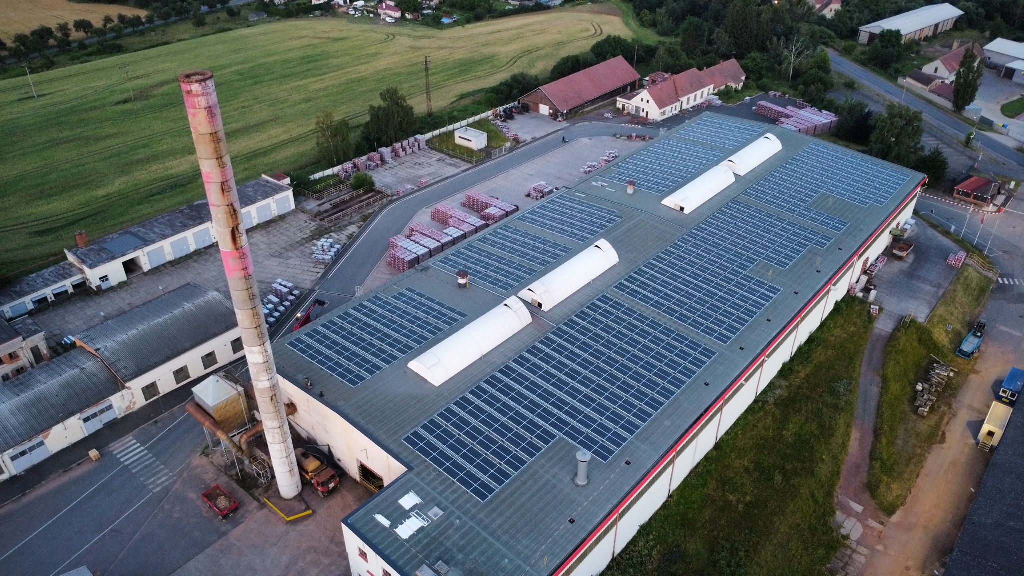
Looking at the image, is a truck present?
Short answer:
Yes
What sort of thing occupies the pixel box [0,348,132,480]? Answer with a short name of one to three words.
shed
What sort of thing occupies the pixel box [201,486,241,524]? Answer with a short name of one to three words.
trailer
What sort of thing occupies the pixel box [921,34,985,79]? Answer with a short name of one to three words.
house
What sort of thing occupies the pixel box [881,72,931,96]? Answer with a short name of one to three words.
shed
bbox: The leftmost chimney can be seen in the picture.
[76,231,92,248]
